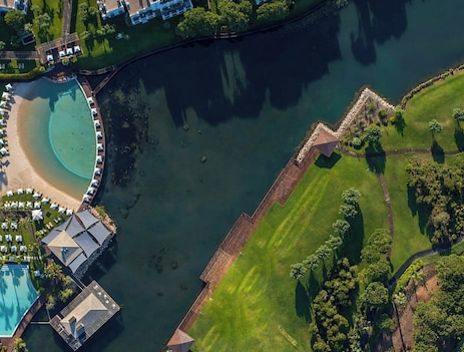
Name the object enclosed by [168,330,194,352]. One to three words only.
gazebo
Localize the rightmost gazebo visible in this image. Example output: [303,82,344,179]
[313,131,338,156]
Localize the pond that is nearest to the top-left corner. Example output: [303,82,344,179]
[0,77,98,212]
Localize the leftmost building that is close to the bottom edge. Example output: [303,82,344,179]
[51,281,120,350]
